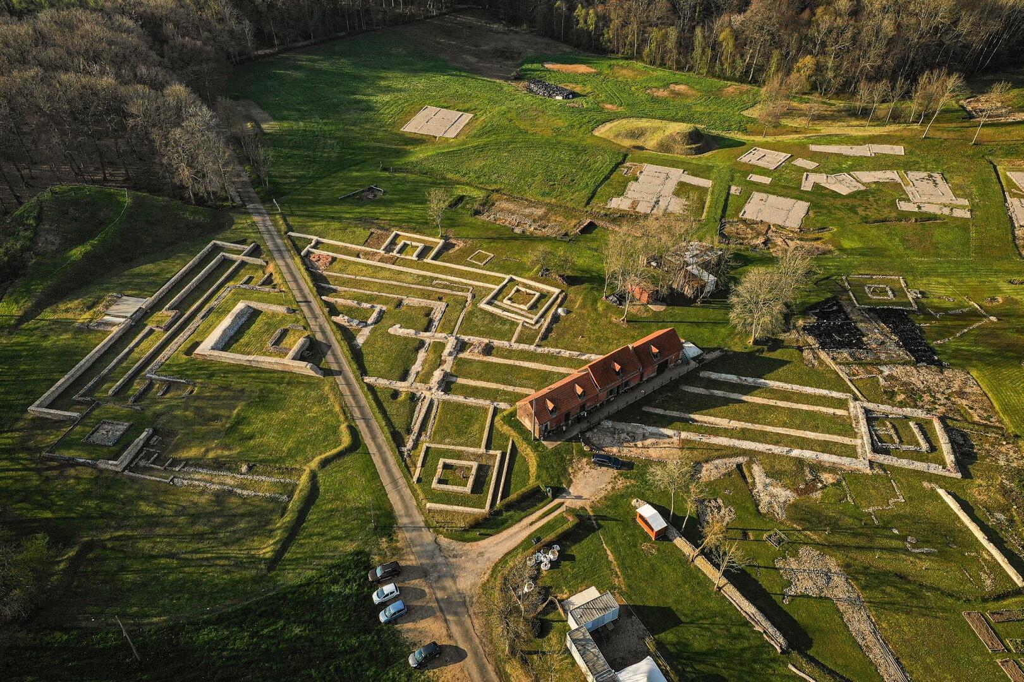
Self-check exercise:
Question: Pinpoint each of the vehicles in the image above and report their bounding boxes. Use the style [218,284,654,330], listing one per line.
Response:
[368,560,401,583]
[592,452,622,471]
[407,640,442,669]
[378,600,409,624]
[371,583,400,606]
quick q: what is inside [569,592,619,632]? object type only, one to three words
building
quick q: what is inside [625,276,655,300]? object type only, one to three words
shed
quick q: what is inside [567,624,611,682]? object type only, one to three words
building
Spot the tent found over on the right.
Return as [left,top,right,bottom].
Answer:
[616,657,664,682]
